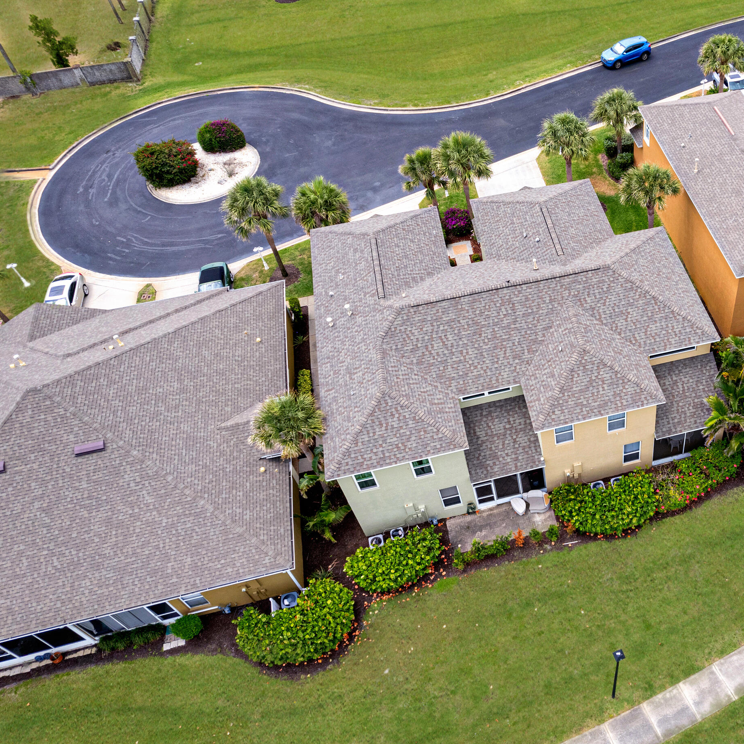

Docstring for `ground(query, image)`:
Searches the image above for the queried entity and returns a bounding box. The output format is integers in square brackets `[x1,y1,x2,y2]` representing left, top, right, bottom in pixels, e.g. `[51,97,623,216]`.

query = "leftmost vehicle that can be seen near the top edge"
[599,33,655,69]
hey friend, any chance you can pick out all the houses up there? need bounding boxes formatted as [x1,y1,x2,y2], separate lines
[0,277,314,665]
[308,176,733,536]
[627,88,744,336]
